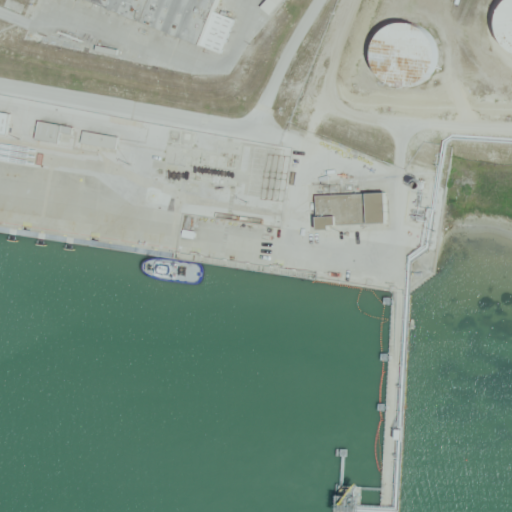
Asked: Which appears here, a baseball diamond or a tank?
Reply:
tank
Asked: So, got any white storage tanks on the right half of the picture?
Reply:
Yes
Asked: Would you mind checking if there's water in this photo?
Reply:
Yes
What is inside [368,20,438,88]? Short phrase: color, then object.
white storage tank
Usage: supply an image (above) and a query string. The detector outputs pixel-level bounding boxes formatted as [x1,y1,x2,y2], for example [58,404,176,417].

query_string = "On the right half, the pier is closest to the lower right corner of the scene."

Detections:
[380,291,412,512]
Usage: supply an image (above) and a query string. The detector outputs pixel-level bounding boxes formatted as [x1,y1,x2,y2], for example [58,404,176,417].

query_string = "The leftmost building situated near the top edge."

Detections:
[196,0,237,54]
